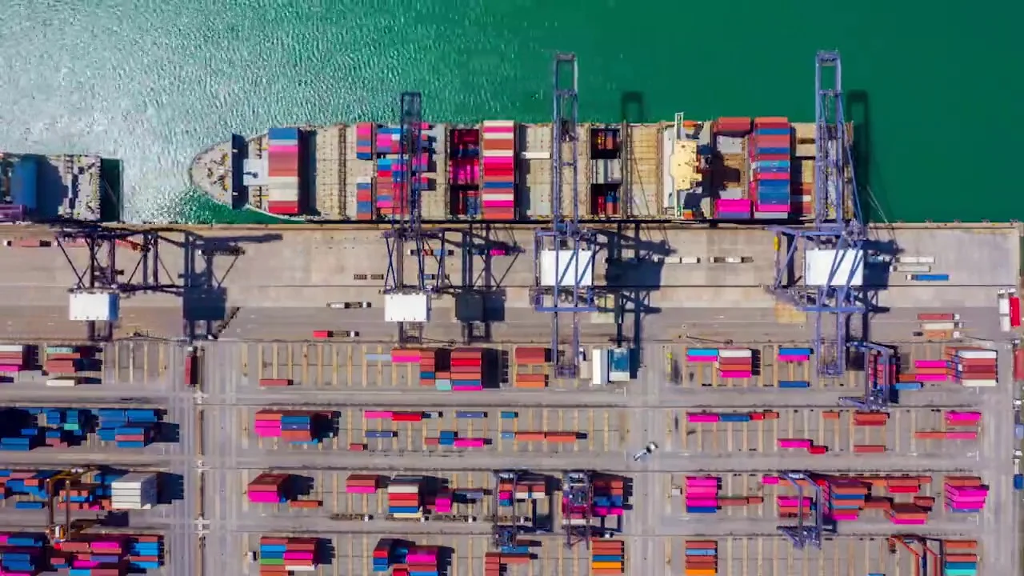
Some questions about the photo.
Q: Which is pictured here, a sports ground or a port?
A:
port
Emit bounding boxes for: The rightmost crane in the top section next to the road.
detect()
[753,50,870,376]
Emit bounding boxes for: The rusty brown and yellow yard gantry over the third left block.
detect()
[47,462,102,546]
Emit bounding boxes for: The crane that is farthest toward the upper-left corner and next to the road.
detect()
[0,210,176,339]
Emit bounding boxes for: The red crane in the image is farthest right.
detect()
[886,533,940,576]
